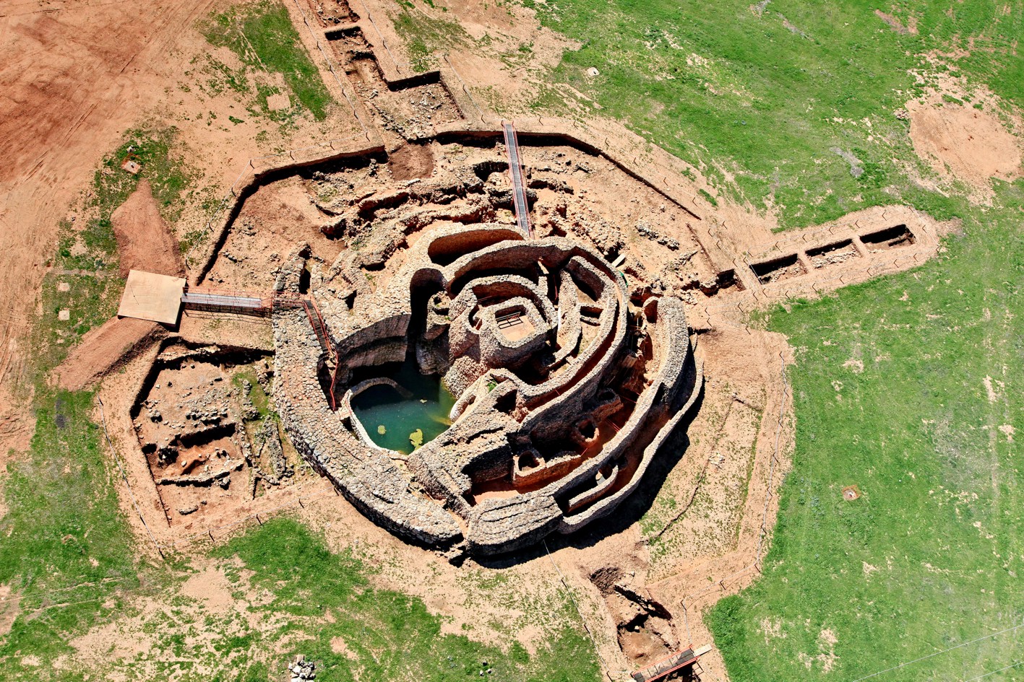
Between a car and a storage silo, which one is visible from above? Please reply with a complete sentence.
There is a storage silo in the scene.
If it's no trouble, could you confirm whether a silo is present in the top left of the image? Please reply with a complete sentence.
No, no silo appears in the top left of the image.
